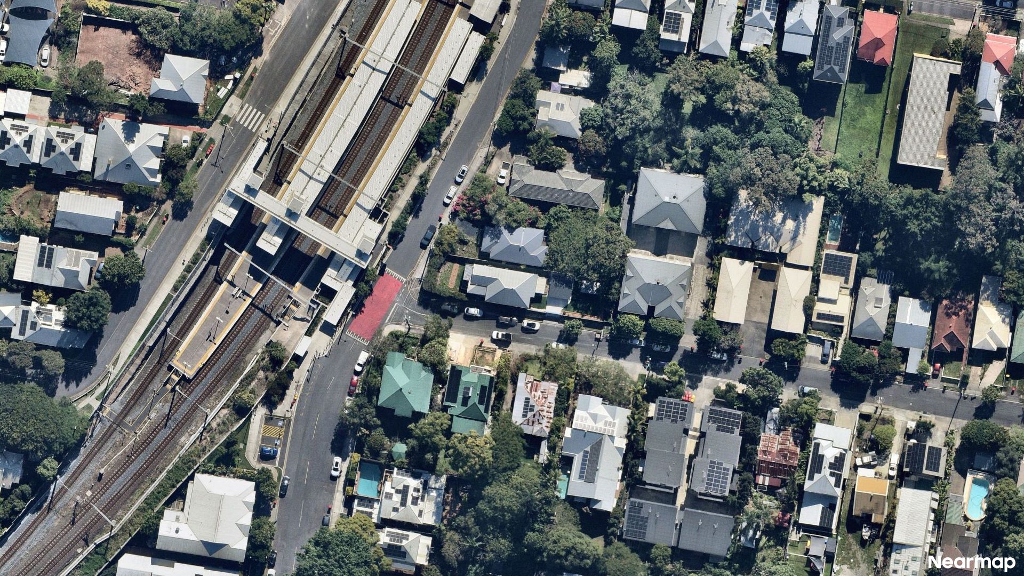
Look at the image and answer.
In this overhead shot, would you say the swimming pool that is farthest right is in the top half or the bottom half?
bottom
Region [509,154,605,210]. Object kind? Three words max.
house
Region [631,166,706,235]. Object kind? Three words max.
building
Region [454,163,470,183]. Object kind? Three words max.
car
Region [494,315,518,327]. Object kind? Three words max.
vehicle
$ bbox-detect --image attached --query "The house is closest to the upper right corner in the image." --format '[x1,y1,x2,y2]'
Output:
[976,33,1017,122]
